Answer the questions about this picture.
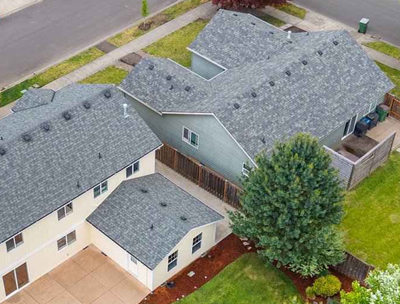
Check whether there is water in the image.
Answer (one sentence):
No, water can't be seen anywhere here.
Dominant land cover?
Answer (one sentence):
The scene is dominated by buildings.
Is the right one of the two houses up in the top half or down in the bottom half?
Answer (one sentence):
The top half of the photo is where the right one of the two houses is.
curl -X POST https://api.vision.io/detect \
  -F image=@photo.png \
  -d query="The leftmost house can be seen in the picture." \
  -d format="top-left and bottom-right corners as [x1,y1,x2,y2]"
[0,85,227,303]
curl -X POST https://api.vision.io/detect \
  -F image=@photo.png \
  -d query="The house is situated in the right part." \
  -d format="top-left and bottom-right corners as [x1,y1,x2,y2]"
[115,10,396,199]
